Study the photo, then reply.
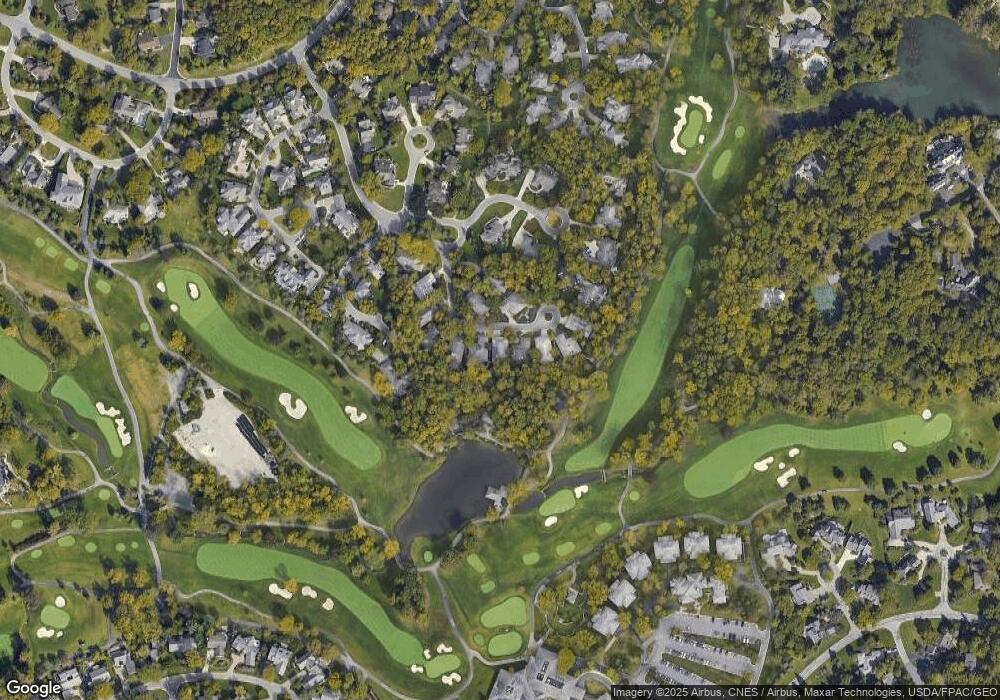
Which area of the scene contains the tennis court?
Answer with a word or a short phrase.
right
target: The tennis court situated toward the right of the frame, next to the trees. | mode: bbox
[812,285,837,323]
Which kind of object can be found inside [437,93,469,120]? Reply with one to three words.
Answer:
house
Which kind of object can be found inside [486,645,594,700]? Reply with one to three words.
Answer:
building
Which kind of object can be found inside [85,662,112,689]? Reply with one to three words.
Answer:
house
